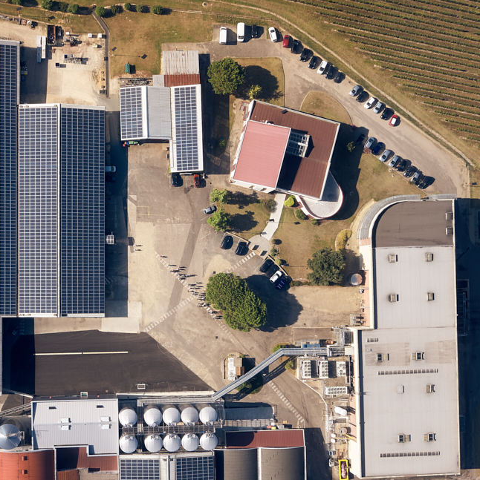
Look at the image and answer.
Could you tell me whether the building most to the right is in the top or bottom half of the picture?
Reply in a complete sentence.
Seen from above, the building most to the right lies in the bottom half of the view.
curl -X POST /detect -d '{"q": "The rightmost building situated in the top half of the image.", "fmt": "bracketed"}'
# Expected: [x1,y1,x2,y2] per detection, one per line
[226,98,344,220]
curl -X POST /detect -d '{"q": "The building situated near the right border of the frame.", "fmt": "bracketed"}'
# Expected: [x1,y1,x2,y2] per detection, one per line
[345,194,466,480]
